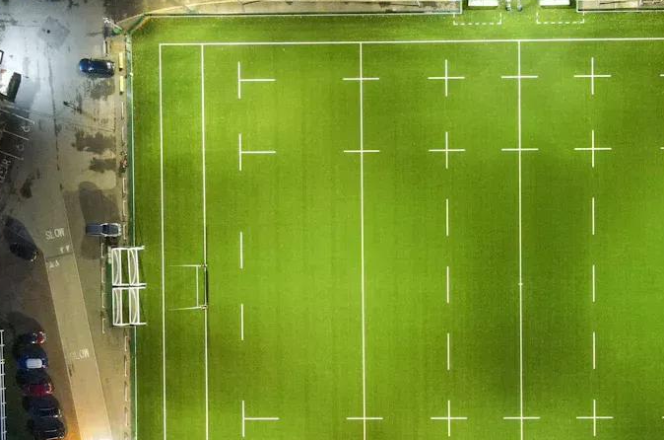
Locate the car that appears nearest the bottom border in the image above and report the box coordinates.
[30,424,66,440]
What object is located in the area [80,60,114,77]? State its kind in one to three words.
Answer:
car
